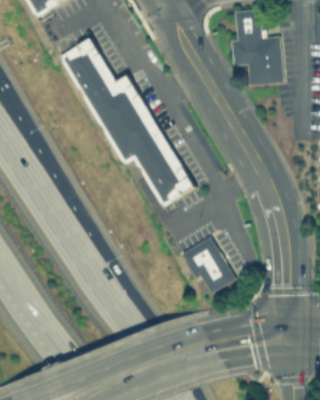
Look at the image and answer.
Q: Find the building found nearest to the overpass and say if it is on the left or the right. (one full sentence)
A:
It is on the right.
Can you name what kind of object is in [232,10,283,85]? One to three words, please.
building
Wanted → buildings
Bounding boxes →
[62,38,193,208]
[232,10,283,85]
[25,0,63,17]
[184,236,236,292]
